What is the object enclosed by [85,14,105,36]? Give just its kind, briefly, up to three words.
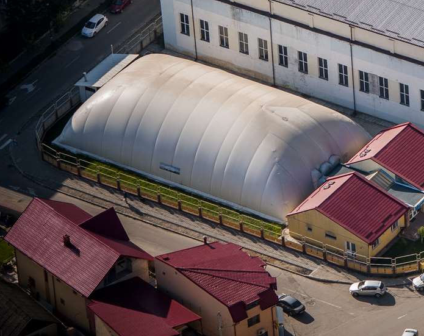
car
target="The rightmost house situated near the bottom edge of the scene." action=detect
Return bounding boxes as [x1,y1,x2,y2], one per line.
[155,235,279,336]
